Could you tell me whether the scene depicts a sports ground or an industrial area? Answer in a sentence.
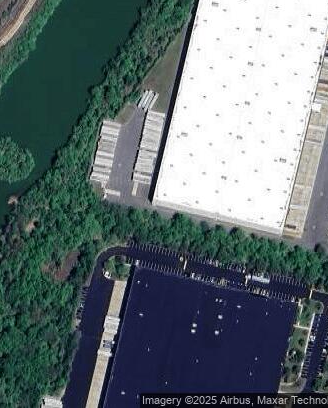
It's an industrial area.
